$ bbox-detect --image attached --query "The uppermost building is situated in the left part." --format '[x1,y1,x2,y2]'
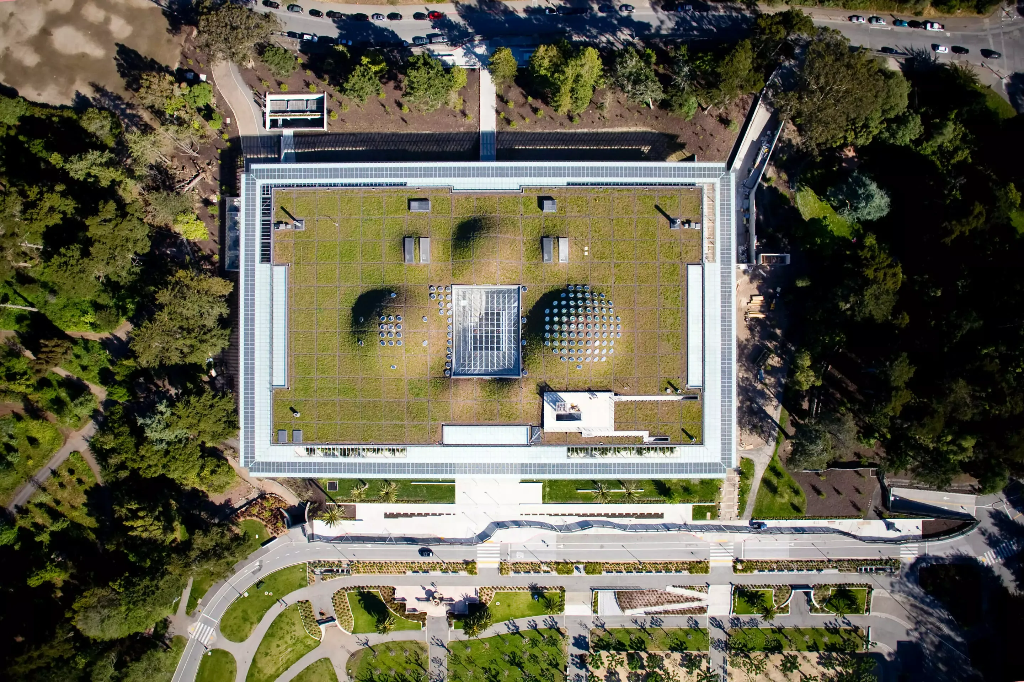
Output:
[262,91,329,133]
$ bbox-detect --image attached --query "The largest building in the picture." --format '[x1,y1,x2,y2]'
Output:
[241,163,735,478]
